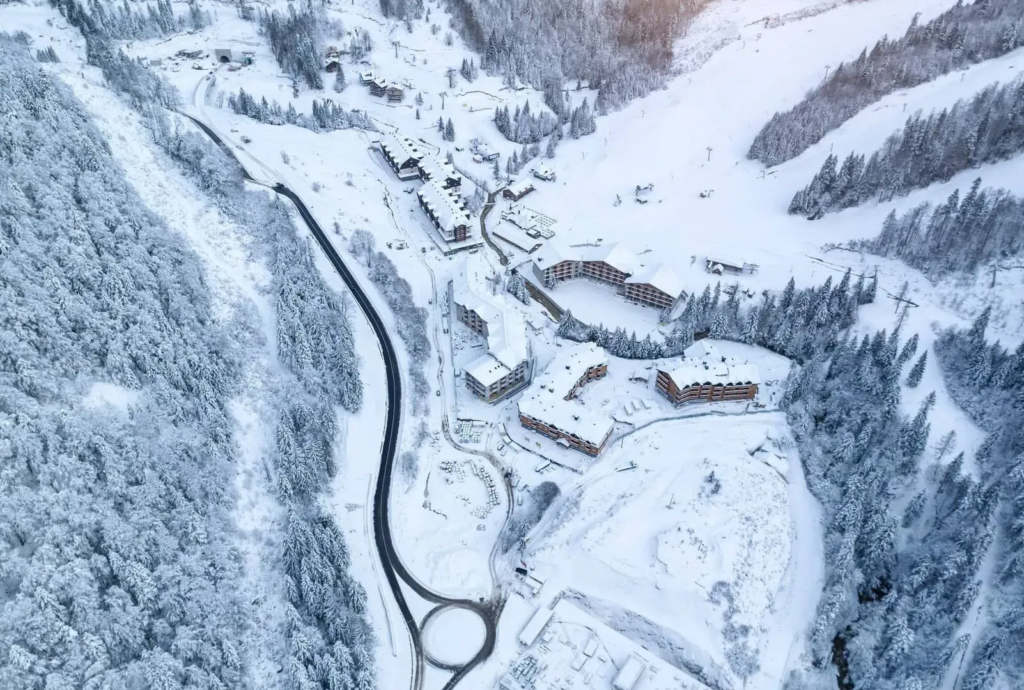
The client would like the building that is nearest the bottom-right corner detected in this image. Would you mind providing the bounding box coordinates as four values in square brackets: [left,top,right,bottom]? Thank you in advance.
[612,656,646,690]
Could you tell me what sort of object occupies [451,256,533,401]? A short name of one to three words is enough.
building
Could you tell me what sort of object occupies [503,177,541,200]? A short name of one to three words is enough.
barn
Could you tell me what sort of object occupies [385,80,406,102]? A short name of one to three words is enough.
house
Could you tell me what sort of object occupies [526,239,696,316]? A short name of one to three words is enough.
building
